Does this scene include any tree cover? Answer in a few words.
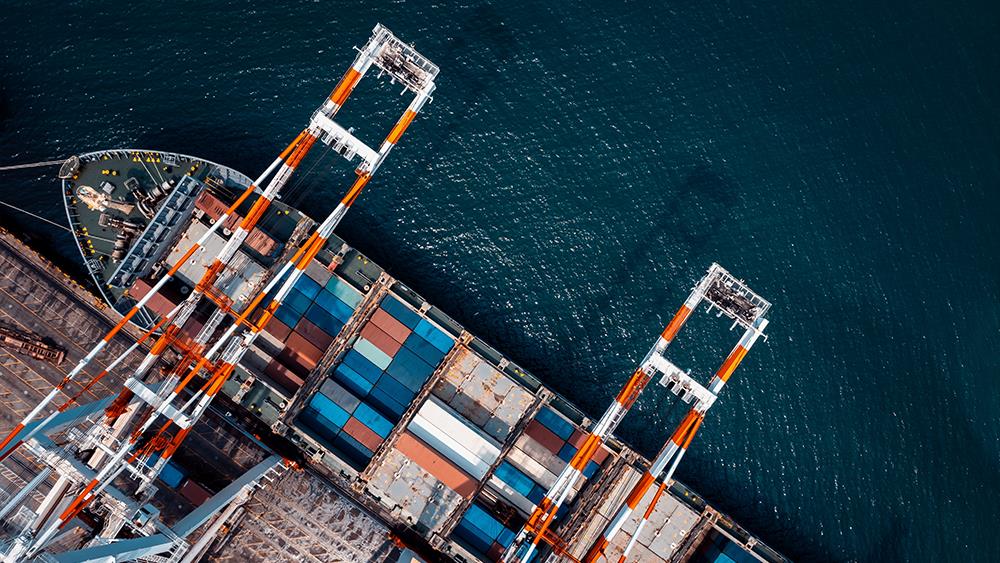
No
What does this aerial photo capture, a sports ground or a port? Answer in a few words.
port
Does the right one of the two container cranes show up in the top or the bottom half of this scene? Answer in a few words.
bottom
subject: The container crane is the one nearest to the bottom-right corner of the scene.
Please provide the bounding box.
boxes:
[493,262,773,563]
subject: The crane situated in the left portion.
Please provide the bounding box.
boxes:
[0,24,440,563]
